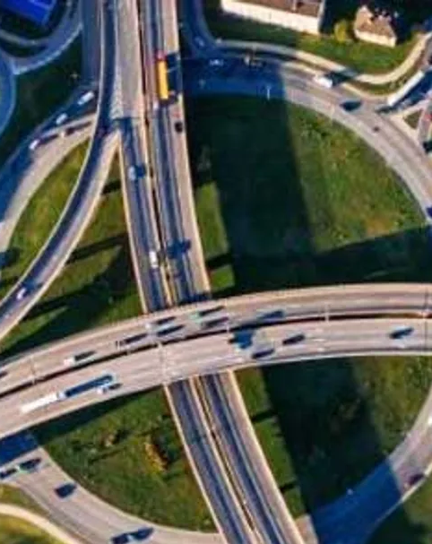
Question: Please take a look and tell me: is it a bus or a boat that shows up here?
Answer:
bus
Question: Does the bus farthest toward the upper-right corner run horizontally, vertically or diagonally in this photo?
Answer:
diagonally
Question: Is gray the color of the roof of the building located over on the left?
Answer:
No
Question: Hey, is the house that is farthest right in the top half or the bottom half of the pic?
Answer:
top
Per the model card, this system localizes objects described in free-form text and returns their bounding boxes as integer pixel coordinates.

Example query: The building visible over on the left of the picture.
[0,0,63,29]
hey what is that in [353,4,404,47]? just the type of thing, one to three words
house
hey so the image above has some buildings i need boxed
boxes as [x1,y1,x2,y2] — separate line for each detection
[226,0,324,33]
[353,4,404,47]
[0,0,63,29]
